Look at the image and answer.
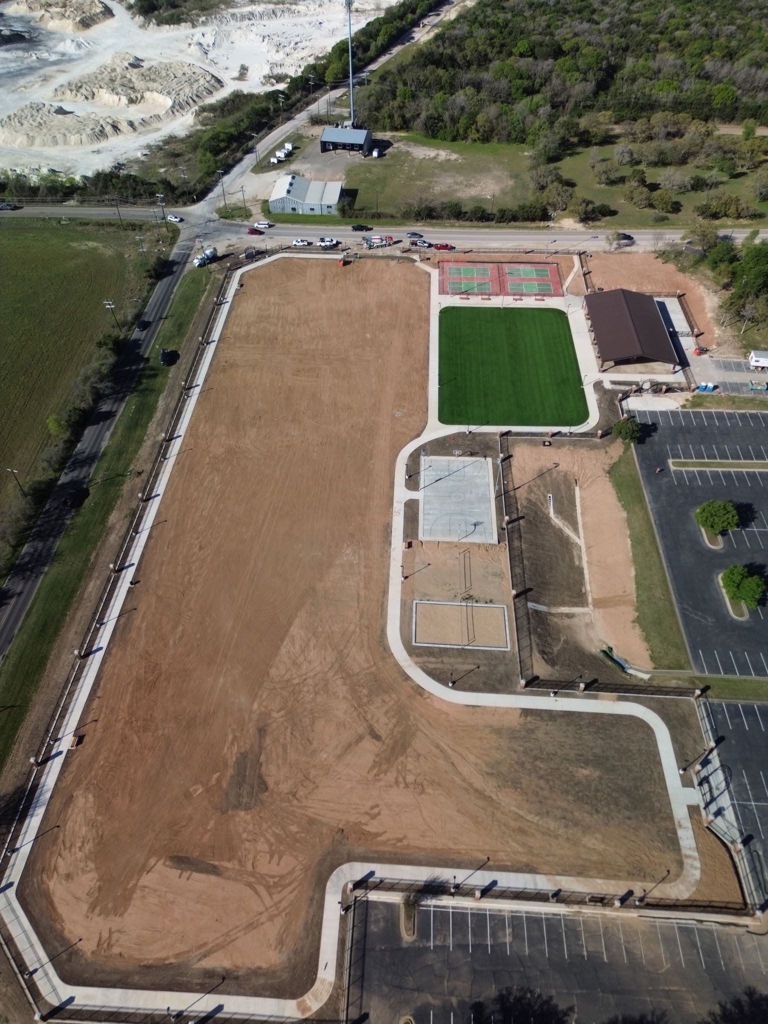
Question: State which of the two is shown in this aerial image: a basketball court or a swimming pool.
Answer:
basketball court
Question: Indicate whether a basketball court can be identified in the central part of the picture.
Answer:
Yes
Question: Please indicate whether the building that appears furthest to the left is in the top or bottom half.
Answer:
top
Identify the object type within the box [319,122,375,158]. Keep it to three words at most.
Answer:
shed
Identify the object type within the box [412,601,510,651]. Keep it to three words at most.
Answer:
sports court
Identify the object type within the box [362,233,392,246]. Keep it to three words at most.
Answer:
vehicle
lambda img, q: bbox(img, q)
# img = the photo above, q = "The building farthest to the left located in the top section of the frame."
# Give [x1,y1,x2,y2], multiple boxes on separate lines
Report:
[268,175,344,215]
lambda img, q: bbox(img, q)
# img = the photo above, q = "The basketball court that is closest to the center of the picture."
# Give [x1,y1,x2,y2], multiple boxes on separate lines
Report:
[419,456,498,544]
